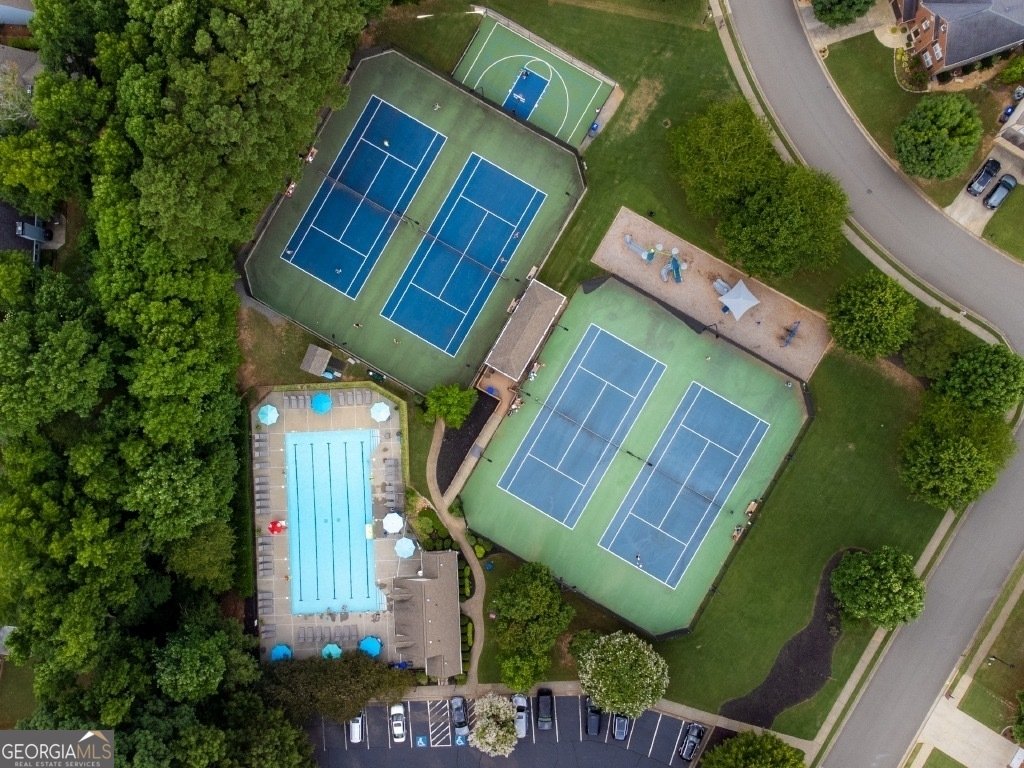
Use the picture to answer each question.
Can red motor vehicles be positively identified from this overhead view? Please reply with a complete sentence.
No, there isn't any red motor vehicle down there.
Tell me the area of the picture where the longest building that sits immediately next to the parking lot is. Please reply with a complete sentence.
Look in the bottom portion of the view to spot the longest building that sits immediately next to the parking lot.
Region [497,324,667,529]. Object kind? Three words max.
tennis court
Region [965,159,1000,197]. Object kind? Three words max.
car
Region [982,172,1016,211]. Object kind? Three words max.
car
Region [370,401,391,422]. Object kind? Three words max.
umbrella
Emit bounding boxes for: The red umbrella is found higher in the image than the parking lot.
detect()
[270,518,286,534]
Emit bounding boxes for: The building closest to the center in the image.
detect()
[485,280,567,381]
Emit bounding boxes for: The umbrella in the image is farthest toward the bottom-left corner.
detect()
[270,640,293,663]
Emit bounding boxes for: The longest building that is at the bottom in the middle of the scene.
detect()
[391,551,461,680]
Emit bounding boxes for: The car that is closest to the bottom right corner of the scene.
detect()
[678,720,703,762]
